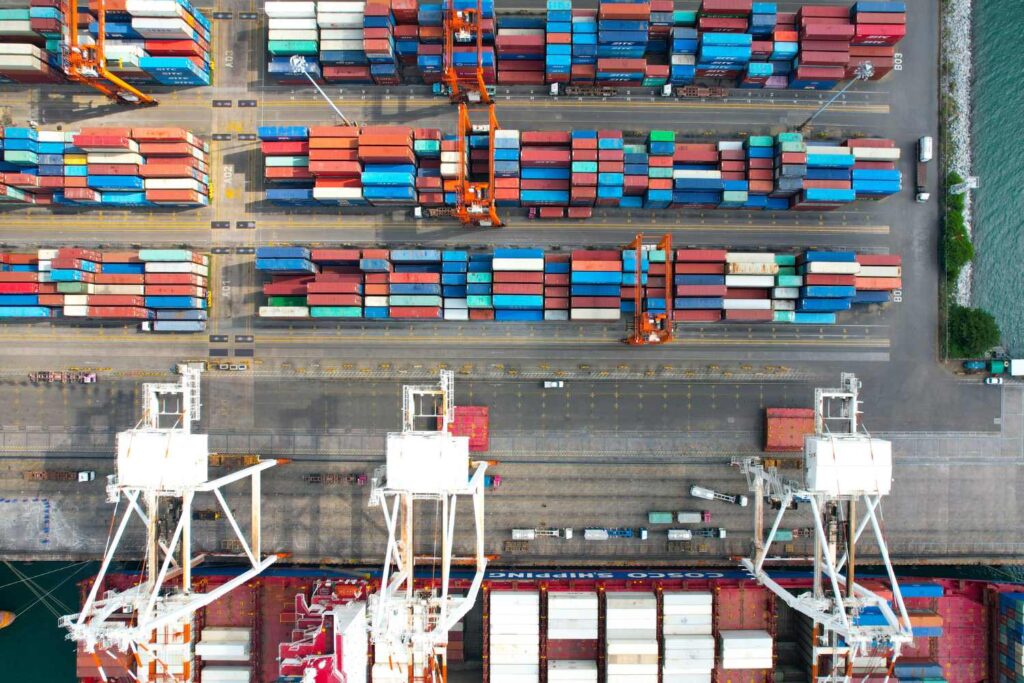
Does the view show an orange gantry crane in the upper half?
Yes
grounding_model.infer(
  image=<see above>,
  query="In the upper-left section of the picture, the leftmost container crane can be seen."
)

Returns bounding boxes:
[65,0,163,104]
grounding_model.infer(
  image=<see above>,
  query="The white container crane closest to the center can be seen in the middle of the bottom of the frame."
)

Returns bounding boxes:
[365,367,503,683]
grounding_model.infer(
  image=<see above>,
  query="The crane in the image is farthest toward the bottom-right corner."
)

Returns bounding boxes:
[728,371,923,683]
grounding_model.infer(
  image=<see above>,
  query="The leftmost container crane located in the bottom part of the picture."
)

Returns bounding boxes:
[60,365,288,683]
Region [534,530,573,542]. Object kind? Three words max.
vehicle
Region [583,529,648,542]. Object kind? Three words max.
vehicle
